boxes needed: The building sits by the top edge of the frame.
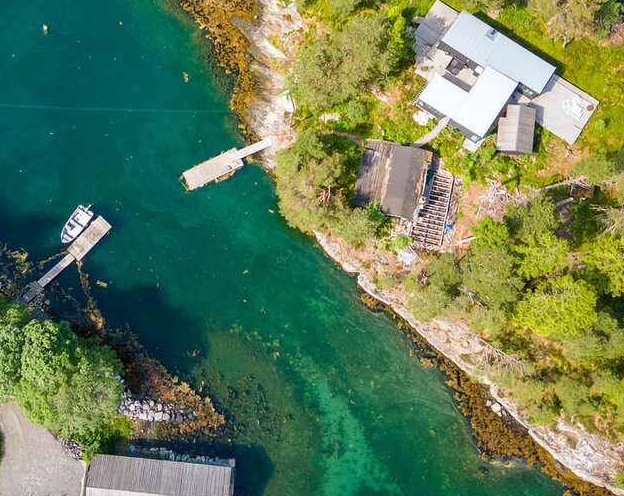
[404,9,558,140]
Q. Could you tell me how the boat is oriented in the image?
at an angle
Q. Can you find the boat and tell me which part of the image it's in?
left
